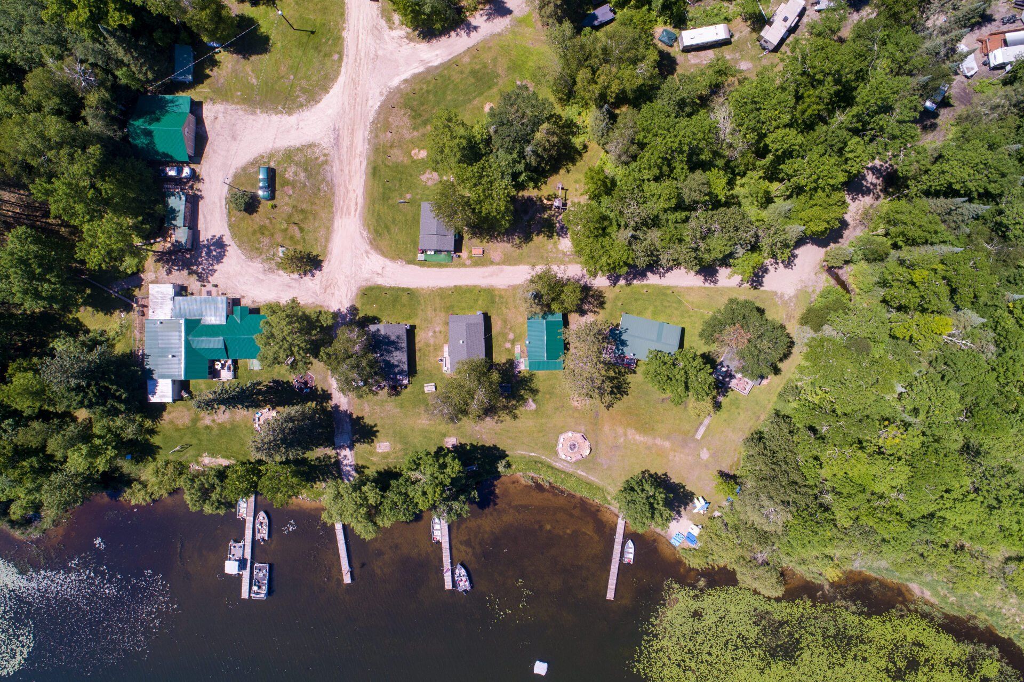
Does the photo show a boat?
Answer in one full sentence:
Yes, there's a boat down there.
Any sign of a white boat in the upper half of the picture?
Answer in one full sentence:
No, I see no white boat in the upper half of the picture.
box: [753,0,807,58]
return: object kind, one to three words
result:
vehicle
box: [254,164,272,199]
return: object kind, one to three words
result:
car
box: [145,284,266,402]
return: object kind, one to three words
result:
building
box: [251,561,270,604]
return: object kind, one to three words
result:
boat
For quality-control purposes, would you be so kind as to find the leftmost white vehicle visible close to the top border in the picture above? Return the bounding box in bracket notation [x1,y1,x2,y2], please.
[673,24,730,55]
